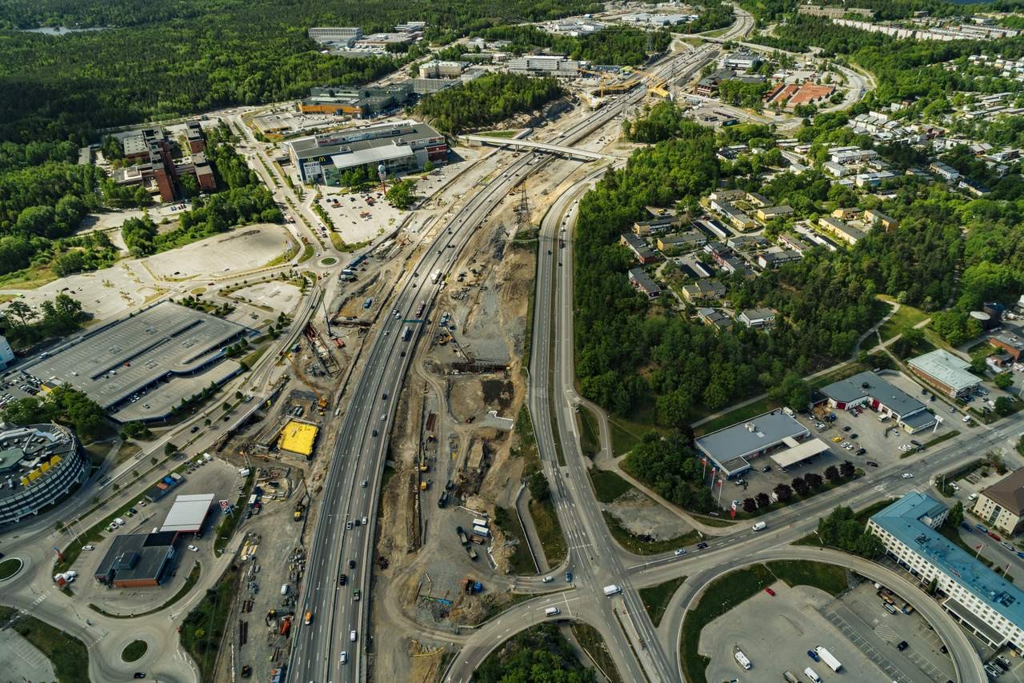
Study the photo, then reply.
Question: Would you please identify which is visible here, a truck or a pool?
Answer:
truck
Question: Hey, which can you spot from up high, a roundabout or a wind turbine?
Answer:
roundabout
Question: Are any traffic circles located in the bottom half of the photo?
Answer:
Yes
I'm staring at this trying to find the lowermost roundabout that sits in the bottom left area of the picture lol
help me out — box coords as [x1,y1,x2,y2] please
[88,610,182,683]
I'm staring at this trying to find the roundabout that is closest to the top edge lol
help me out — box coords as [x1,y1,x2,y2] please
[301,250,355,272]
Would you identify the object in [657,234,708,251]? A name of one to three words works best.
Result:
house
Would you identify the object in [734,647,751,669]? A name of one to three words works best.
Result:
camper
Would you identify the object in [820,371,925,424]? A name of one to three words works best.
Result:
building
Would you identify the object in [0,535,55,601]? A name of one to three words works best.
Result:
roundabout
